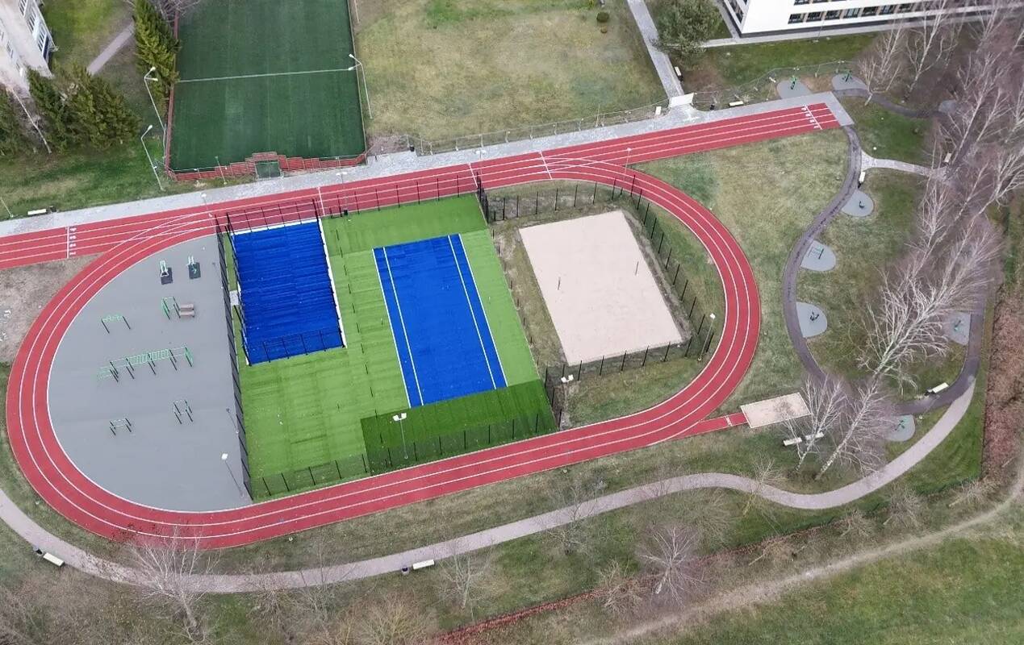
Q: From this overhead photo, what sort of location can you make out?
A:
sports ground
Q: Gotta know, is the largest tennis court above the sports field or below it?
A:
below it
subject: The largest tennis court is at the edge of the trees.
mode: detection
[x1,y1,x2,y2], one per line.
[220,192,557,502]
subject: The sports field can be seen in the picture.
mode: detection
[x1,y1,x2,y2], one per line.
[167,0,365,173]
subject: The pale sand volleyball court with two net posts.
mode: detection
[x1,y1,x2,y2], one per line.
[518,210,683,366]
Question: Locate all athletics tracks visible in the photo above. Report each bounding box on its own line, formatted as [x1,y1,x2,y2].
[0,103,842,552]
